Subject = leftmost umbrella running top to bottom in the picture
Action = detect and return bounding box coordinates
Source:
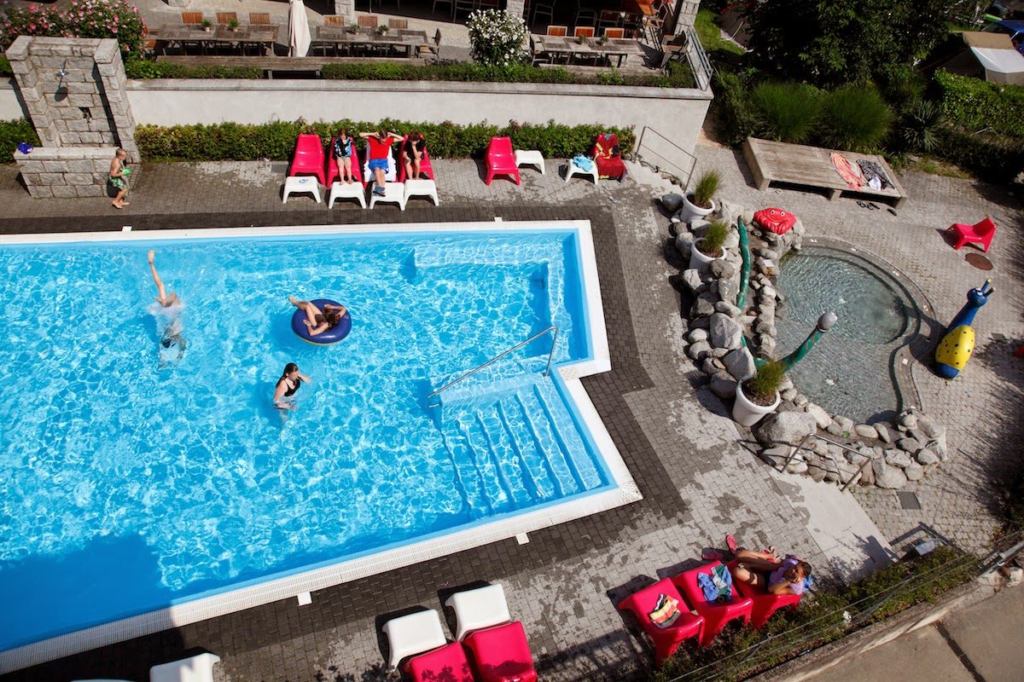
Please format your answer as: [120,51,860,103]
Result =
[278,0,308,56]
